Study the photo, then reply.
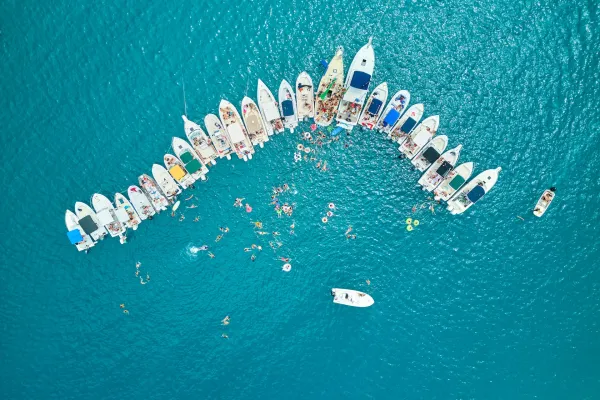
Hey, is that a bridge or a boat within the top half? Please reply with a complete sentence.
You can see a boat within the top half.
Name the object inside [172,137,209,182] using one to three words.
boat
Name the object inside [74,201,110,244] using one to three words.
boat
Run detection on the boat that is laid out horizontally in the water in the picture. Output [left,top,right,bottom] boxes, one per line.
[330,287,374,308]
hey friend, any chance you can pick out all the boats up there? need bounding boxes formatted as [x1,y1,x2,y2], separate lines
[64,210,95,252]
[220,99,255,161]
[91,193,129,240]
[243,97,270,148]
[397,115,439,161]
[389,104,424,146]
[206,114,234,158]
[295,71,315,123]
[152,163,182,200]
[139,173,170,213]
[257,79,285,138]
[330,287,374,308]
[357,82,388,132]
[445,167,502,216]
[74,201,110,244]
[416,145,462,193]
[335,37,373,132]
[376,90,410,136]
[313,47,342,128]
[536,189,555,217]
[410,135,448,173]
[181,115,219,167]
[172,137,209,182]
[127,186,157,222]
[278,79,299,131]
[163,153,197,192]
[114,192,143,230]
[433,162,473,204]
